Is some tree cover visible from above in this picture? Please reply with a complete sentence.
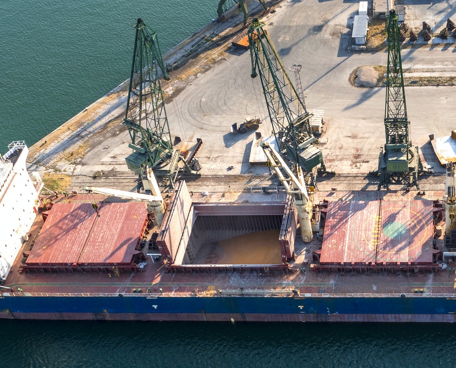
No, there's no tree cover in this view.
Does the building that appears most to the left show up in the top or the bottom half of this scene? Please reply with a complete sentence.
The building that appears most to the left is in the top half of the image.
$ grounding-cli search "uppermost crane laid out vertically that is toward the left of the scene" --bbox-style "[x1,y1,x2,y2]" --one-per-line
[122,12,197,193]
